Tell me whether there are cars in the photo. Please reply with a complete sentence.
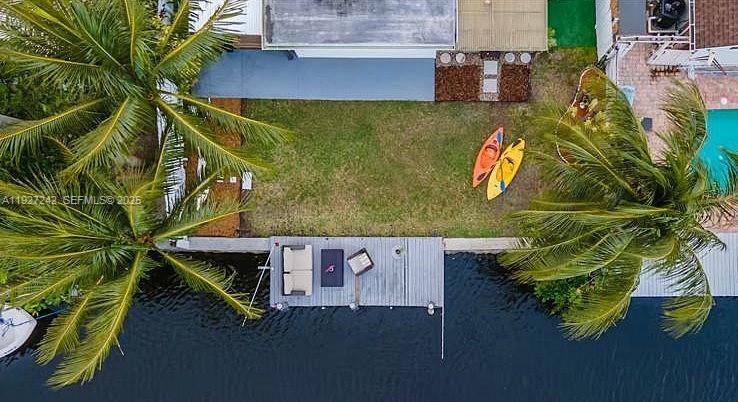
No, there is no car in the image.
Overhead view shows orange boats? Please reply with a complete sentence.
Yes, an orange boat is visible in the scene.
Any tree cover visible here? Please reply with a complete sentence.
Yes, the picture does contain tree cover.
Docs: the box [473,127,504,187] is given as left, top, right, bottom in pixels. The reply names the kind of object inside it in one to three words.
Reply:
boat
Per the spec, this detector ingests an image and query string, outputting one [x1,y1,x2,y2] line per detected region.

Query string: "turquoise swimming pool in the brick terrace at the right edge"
[701,97,738,200]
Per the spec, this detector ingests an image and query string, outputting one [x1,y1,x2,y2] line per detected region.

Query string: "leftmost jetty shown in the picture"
[270,237,443,310]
